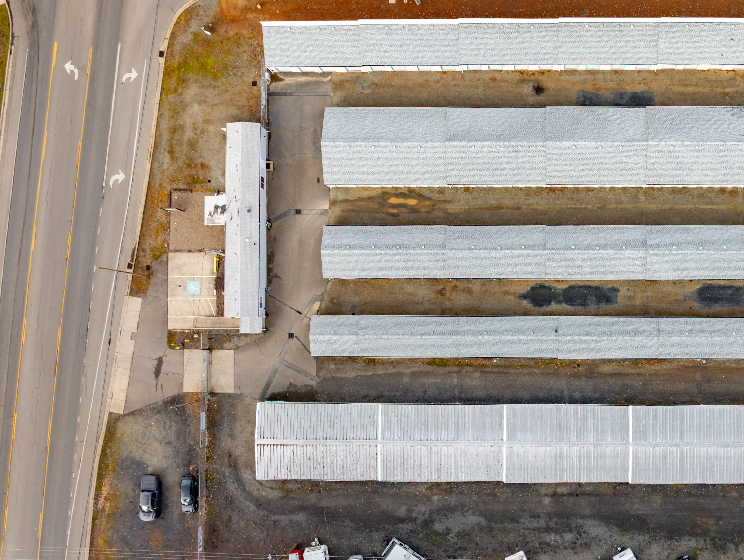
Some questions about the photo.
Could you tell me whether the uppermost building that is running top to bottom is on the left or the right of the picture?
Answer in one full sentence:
You can find the uppermost building that is running top to bottom on the left side of the picture.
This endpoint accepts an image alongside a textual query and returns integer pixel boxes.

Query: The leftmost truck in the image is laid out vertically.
[136,473,162,523]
